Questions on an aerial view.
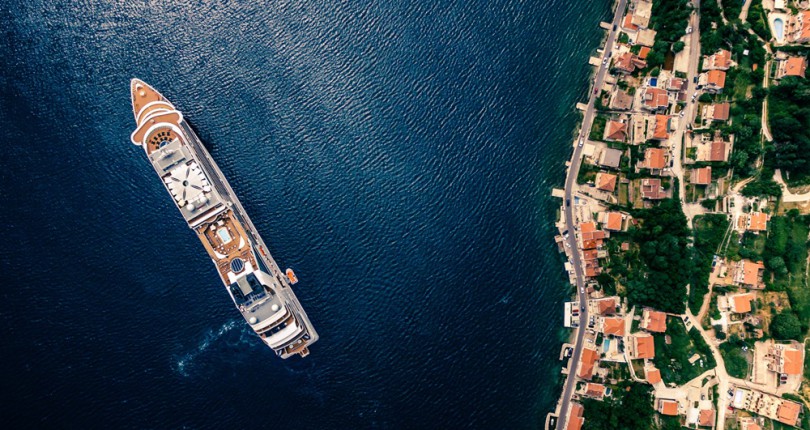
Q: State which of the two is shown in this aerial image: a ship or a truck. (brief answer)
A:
ship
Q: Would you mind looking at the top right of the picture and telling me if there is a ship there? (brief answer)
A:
No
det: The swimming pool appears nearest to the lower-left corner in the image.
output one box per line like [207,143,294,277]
[215,228,232,246]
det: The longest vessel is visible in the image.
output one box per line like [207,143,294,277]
[132,77,313,357]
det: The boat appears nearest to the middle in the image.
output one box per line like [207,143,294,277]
[286,266,300,281]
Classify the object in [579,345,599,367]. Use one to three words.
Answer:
house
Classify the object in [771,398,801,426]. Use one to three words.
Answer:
building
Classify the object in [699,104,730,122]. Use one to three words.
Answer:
house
